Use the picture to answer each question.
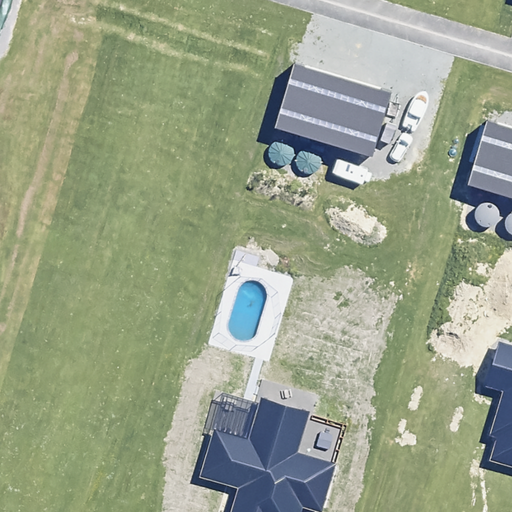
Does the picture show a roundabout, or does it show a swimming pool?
swimming pool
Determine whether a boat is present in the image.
Yes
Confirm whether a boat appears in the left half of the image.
No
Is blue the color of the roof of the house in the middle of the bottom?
Yes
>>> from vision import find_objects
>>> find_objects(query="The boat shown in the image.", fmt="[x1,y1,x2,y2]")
[402,90,428,132]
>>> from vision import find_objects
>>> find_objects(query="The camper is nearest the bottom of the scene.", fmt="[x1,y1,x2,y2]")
[332,160,374,184]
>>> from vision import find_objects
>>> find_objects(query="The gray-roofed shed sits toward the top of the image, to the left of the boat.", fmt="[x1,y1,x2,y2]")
[276,63,390,154]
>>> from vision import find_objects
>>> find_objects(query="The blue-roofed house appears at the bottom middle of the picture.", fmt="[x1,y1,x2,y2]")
[200,398,336,512]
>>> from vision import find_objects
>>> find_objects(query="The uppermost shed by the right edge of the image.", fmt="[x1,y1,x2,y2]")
[468,120,512,198]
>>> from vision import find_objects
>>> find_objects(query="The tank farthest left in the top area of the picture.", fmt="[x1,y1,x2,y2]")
[268,142,294,167]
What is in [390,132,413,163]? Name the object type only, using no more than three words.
car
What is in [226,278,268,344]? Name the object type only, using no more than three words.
swimming pool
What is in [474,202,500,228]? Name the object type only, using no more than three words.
water tank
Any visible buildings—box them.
[276,63,390,154]
[484,341,512,468]
[200,398,336,512]
[468,120,512,198]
